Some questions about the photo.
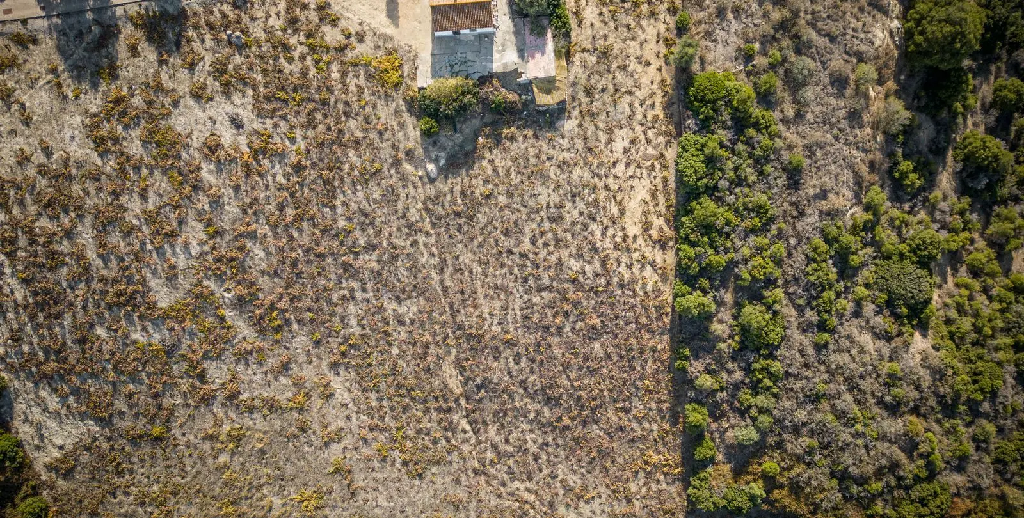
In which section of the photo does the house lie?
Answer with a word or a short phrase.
top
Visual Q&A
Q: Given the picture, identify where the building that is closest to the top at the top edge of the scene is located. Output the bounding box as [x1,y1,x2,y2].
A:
[430,0,494,37]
